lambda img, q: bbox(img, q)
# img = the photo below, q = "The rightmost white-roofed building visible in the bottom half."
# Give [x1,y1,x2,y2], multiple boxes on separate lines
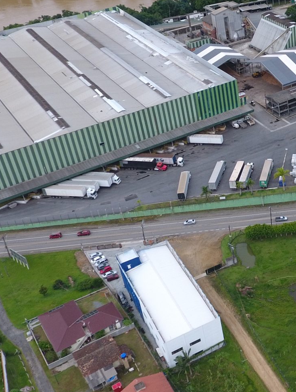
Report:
[117,241,231,375]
